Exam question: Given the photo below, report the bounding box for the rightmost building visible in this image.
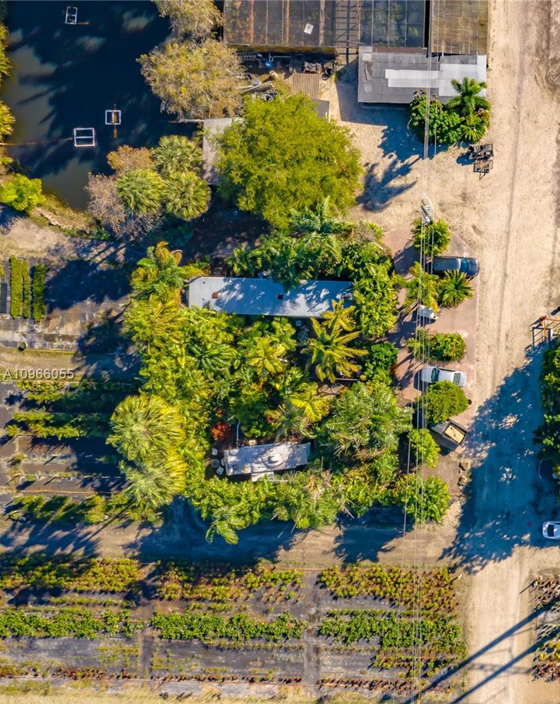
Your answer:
[429,0,488,65]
